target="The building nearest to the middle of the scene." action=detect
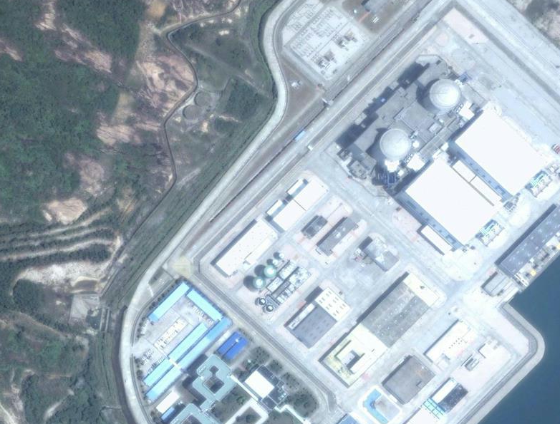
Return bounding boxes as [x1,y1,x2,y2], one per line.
[272,200,305,232]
